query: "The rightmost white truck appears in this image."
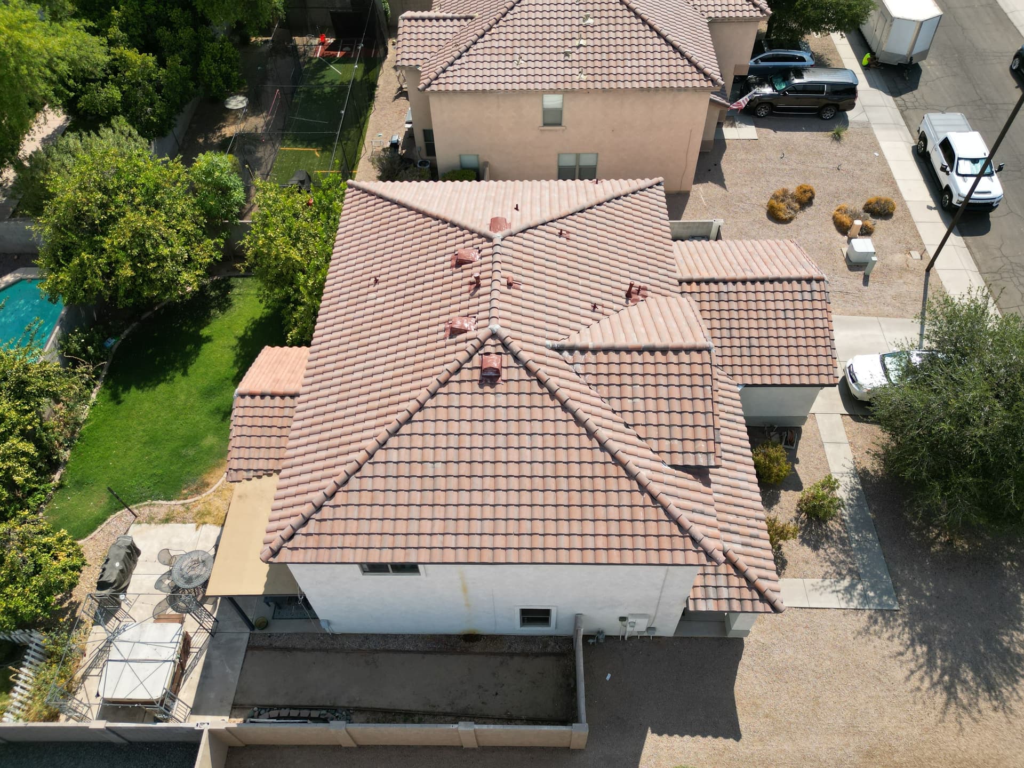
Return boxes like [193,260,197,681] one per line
[918,117,1006,211]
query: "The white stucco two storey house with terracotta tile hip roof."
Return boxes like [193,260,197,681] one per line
[205,174,841,640]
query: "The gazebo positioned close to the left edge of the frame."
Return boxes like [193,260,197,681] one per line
[45,592,214,722]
